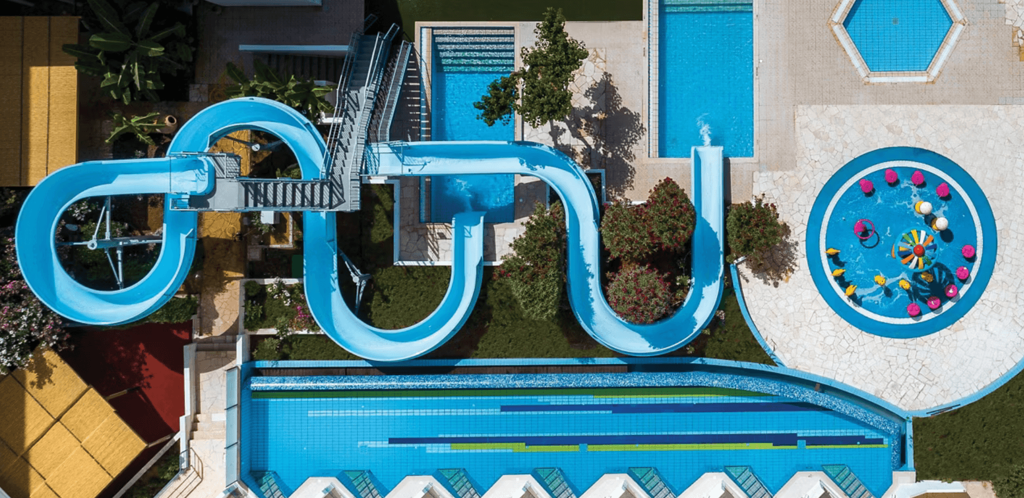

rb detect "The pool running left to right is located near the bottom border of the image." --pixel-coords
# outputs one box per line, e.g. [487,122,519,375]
[239,358,913,498]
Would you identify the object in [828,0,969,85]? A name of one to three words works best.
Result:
swimming pool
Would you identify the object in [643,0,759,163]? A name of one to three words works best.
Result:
swimming pool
